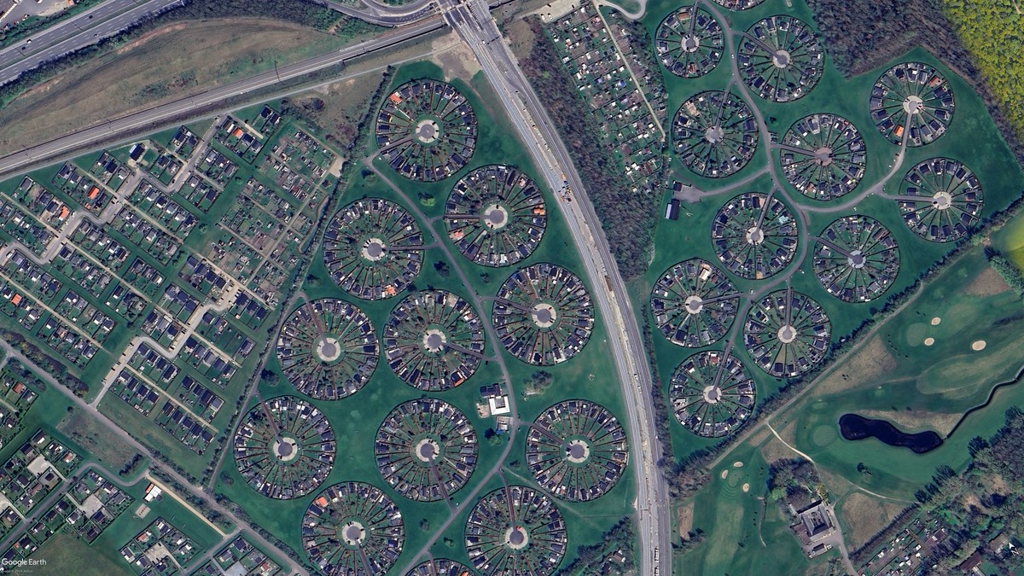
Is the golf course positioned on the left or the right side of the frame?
right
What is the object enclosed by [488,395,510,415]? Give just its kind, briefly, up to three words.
building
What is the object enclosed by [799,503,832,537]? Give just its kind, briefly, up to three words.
building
